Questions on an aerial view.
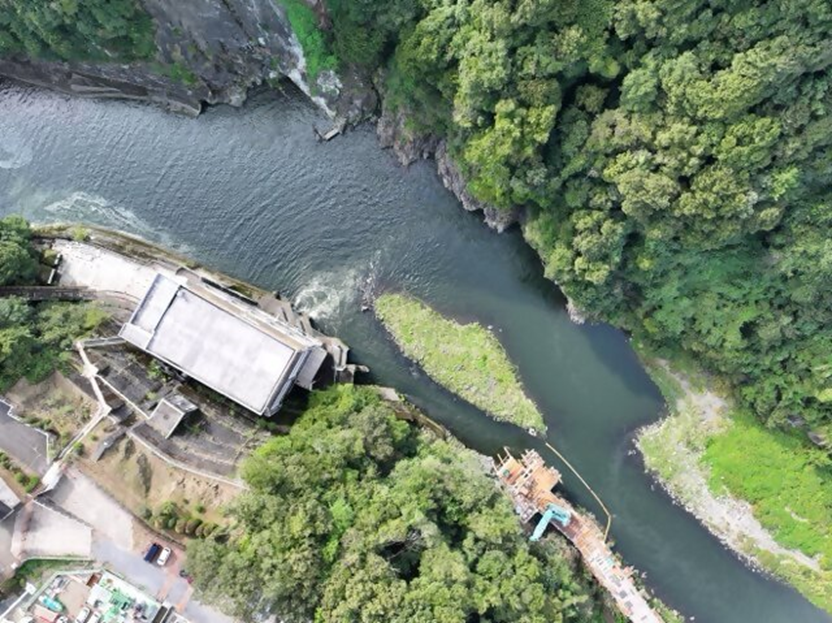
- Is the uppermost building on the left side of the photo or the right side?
left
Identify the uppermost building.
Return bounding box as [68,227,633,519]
[123,273,332,415]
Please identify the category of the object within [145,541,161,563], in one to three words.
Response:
car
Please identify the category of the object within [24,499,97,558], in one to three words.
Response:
building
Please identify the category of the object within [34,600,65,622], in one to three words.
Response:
shed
